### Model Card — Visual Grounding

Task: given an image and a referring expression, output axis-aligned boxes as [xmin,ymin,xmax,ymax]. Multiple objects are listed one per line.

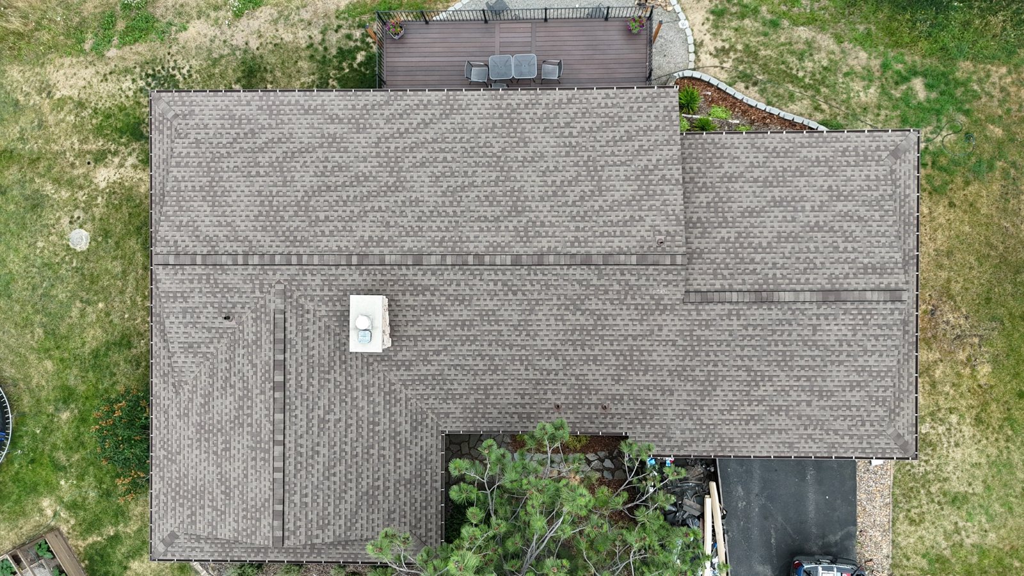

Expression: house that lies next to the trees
[149,84,920,568]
